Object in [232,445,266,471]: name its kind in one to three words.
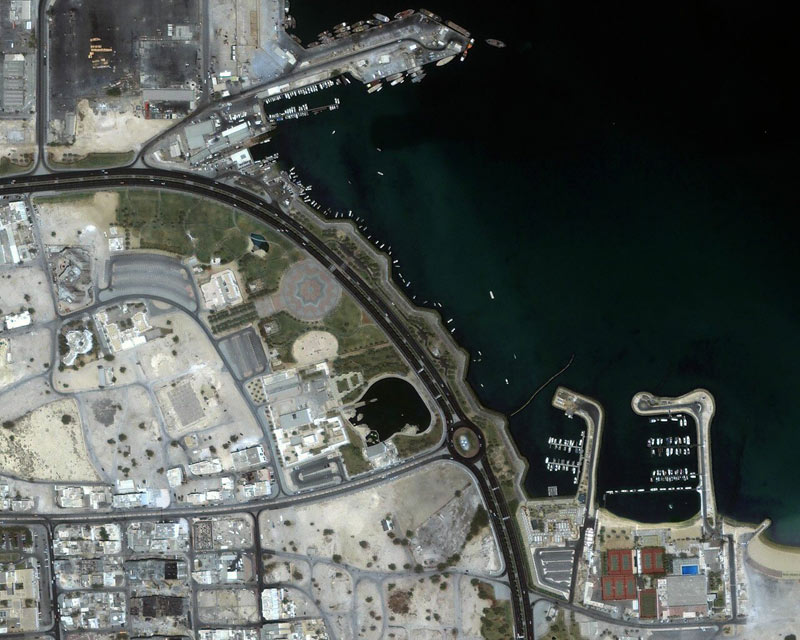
building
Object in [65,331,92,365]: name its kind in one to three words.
house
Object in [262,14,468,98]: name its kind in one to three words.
pier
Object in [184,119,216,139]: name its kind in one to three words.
building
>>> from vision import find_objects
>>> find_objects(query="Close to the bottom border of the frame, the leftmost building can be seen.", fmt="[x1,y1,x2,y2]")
[0,568,38,634]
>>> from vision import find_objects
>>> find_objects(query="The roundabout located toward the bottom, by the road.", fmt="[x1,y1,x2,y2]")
[447,421,485,464]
